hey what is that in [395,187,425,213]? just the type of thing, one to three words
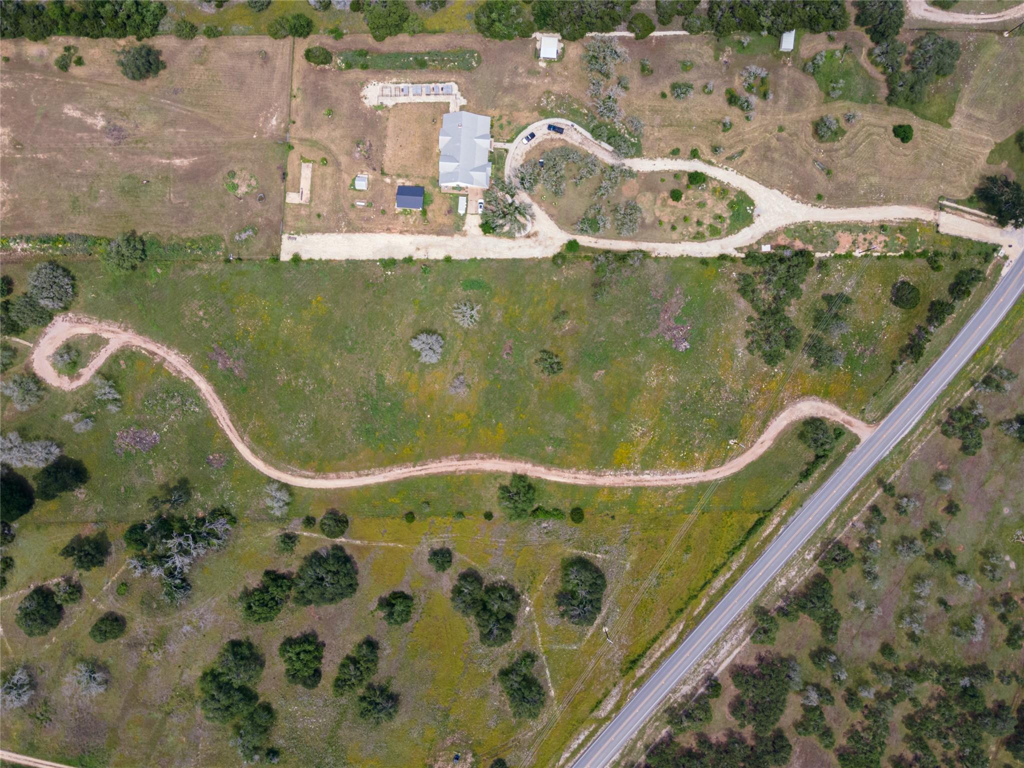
shed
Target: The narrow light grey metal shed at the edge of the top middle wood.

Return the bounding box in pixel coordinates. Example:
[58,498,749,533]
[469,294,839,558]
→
[777,30,795,55]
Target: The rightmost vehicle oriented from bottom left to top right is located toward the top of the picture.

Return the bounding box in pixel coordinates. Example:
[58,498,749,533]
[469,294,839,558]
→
[521,130,537,145]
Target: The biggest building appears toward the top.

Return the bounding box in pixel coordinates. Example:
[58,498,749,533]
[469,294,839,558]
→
[436,111,494,190]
